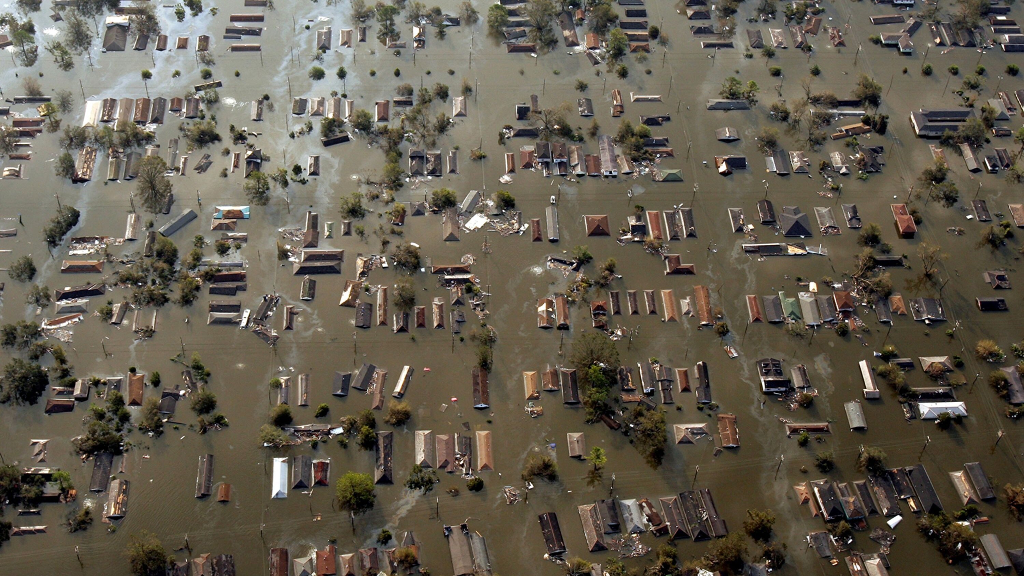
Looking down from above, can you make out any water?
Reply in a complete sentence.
Yes, some water is visible.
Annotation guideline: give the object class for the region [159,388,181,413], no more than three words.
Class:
shed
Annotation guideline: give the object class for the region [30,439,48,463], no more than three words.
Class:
shed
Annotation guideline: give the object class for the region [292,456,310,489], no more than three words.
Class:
house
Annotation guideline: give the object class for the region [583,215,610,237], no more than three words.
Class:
house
